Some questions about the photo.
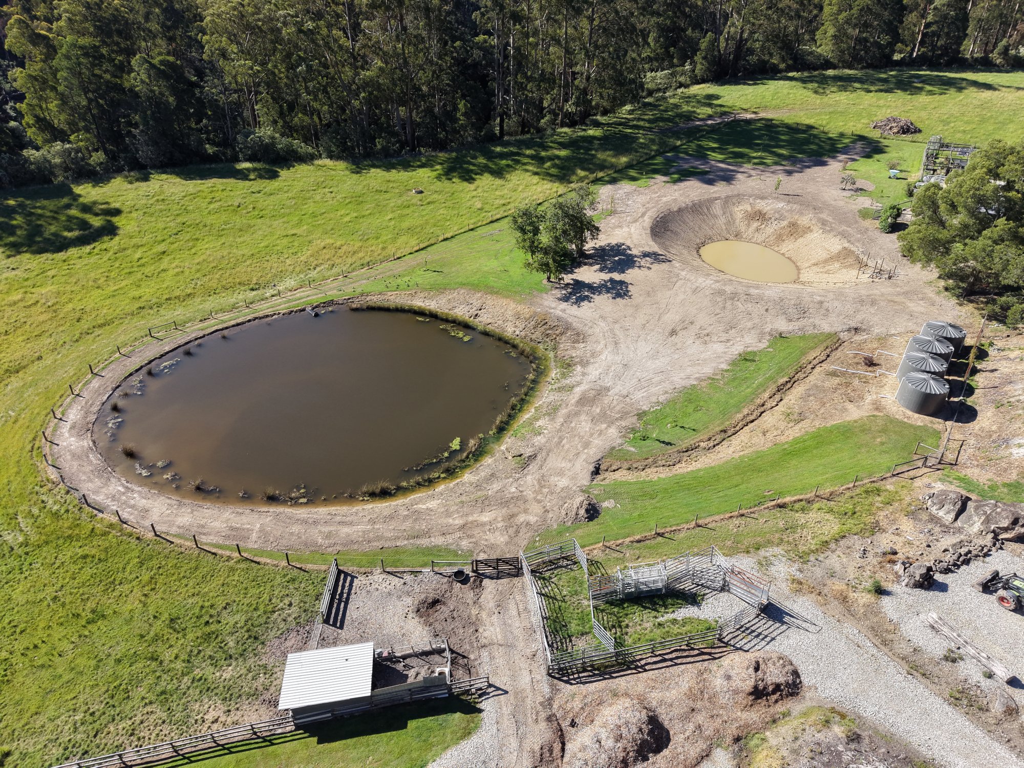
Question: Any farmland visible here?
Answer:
Yes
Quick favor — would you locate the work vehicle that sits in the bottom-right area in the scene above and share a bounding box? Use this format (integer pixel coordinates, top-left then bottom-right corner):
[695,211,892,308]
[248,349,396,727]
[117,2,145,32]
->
[968,568,1024,615]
